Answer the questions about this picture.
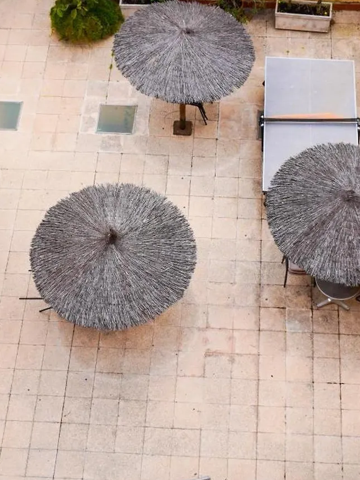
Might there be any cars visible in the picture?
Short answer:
No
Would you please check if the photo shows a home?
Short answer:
No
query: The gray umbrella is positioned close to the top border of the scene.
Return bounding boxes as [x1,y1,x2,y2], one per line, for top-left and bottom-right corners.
[117,1,262,135]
